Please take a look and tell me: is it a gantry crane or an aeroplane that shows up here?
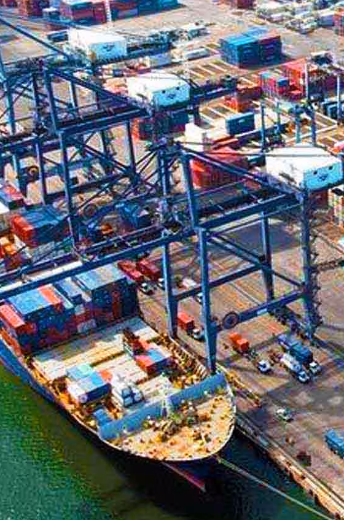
gantry crane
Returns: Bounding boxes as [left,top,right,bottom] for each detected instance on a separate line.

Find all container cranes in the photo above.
[274,100,327,152]
[0,25,167,202]
[0,135,344,373]
[0,61,227,248]
[297,60,344,125]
